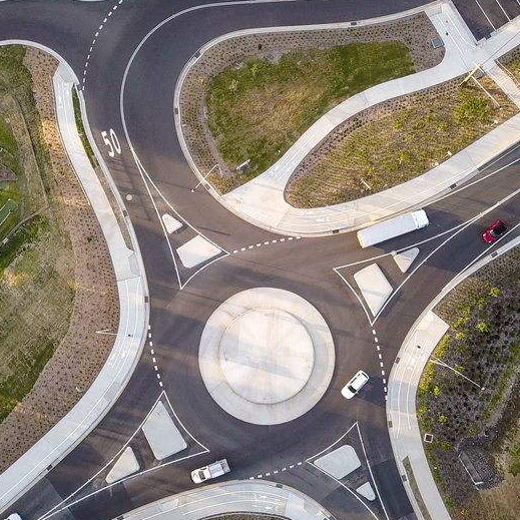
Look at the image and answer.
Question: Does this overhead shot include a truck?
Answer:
Yes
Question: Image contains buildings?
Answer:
No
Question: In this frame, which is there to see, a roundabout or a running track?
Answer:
roundabout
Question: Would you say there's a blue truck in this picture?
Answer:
No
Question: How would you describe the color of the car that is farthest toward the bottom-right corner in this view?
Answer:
white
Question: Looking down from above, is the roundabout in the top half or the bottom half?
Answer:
bottom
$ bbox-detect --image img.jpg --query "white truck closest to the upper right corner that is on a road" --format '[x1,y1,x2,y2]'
[354,209,426,251]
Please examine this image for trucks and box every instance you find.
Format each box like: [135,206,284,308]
[354,209,426,251]
[189,458,231,484]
